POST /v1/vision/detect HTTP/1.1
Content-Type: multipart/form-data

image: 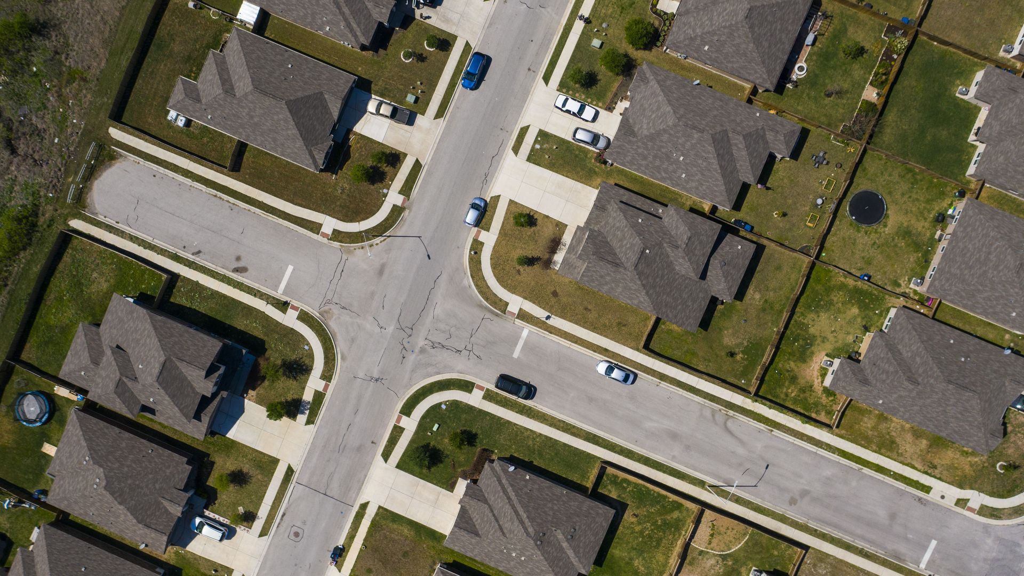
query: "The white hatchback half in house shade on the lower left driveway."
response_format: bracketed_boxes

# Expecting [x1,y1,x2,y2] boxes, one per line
[189,517,228,545]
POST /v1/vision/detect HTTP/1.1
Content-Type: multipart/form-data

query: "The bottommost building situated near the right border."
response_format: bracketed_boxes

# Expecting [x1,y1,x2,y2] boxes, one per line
[823,305,1024,454]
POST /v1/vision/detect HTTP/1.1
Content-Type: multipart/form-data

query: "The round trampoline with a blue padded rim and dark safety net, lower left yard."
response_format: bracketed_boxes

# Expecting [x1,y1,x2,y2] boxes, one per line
[11,391,53,427]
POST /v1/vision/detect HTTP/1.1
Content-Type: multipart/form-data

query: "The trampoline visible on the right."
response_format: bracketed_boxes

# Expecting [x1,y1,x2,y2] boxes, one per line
[846,188,885,227]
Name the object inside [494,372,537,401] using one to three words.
car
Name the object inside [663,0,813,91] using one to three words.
house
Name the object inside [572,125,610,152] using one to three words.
car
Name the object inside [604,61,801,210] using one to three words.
house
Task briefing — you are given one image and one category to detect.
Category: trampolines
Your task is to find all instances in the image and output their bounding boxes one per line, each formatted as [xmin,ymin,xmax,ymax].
[11,391,53,427]
[846,188,885,227]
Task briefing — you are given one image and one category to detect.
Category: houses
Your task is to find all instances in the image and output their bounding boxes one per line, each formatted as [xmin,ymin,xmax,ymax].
[8,520,167,576]
[444,457,616,576]
[966,65,1024,208]
[557,182,757,332]
[59,293,230,440]
[168,26,358,173]
[663,0,813,91]
[823,305,1024,454]
[918,197,1024,334]
[1004,26,1024,77]
[432,559,464,576]
[46,408,193,558]
[246,0,396,51]
[604,61,801,210]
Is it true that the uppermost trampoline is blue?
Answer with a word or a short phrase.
No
